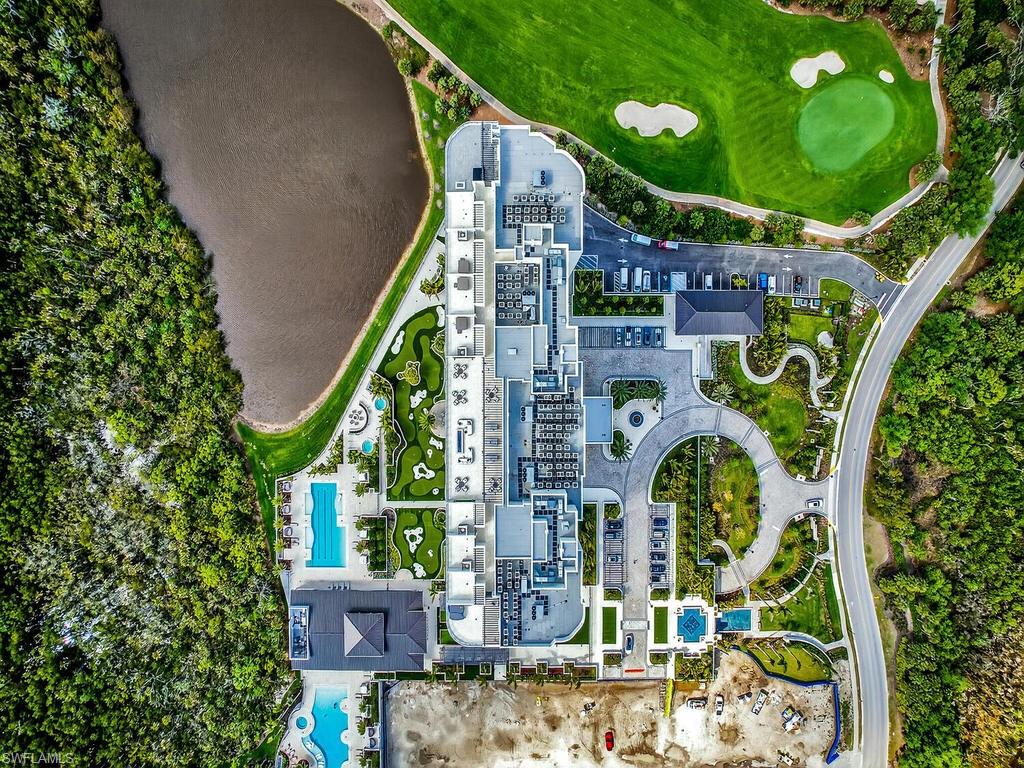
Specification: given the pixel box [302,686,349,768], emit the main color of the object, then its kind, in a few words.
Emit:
blue swimming pool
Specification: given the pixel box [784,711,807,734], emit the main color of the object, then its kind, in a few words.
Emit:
white truck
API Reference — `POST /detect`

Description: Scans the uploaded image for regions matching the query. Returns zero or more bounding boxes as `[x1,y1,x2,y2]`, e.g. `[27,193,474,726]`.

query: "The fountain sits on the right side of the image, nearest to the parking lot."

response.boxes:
[628,410,645,428]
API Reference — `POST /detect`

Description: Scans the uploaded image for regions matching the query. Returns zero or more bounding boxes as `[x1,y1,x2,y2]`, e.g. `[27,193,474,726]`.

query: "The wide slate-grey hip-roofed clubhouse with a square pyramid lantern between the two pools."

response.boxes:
[290,589,426,671]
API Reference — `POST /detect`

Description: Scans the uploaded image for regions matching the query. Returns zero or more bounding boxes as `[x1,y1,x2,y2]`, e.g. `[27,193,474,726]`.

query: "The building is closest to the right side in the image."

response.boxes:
[675,290,764,336]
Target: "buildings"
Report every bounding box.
[443,117,613,647]
[675,290,764,336]
[290,589,426,671]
